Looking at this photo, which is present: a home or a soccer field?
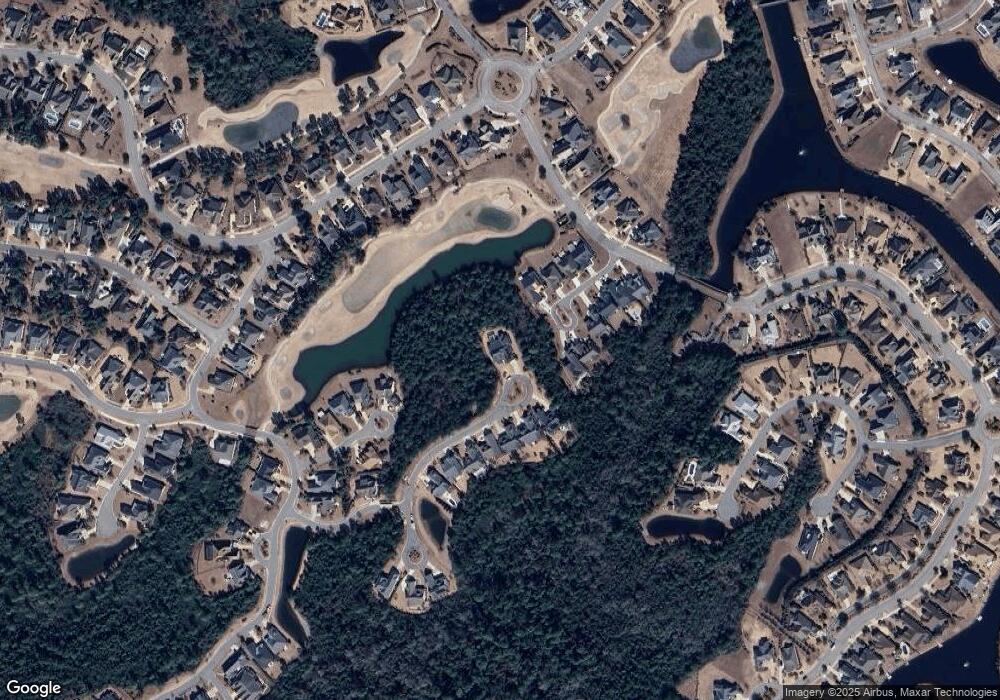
home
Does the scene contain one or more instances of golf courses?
Yes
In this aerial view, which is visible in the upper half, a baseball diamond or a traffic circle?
traffic circle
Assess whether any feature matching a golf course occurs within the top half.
Yes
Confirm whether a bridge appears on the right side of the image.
Yes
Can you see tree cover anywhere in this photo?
Yes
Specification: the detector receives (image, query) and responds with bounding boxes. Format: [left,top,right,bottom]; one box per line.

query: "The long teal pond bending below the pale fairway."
[288,219,555,417]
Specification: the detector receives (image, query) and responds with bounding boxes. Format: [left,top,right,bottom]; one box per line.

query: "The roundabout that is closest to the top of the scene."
[479,56,535,112]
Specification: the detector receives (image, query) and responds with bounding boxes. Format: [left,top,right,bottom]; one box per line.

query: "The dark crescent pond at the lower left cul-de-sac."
[67,535,135,582]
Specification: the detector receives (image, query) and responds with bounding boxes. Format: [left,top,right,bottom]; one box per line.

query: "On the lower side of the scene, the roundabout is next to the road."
[976,408,1000,445]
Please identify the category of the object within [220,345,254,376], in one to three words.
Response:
house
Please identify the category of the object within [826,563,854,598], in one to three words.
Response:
house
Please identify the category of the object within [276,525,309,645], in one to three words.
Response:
pond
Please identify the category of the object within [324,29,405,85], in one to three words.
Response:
pond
